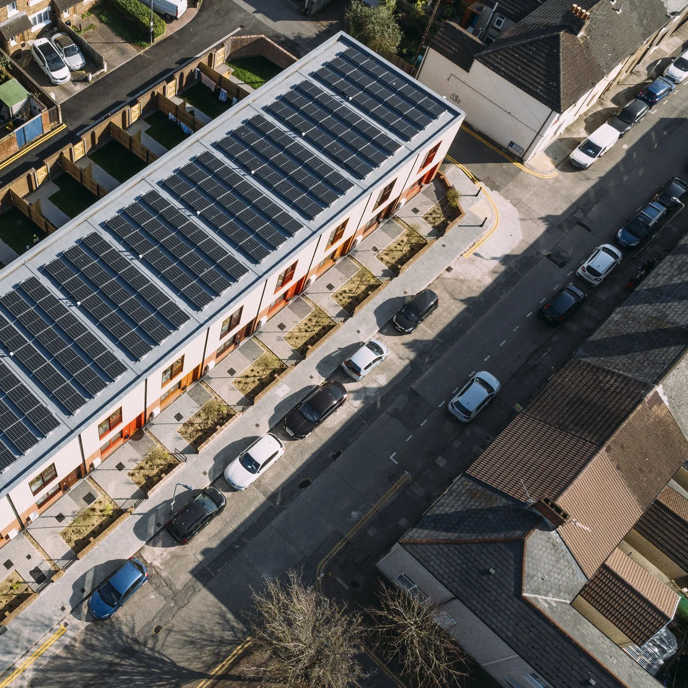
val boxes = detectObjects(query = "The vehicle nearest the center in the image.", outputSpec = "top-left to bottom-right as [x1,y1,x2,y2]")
[339,334,396,388]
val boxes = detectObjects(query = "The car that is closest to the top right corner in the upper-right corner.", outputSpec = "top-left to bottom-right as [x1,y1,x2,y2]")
[661,43,688,85]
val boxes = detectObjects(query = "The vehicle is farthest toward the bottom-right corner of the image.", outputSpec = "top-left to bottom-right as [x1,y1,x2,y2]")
[443,366,502,430]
